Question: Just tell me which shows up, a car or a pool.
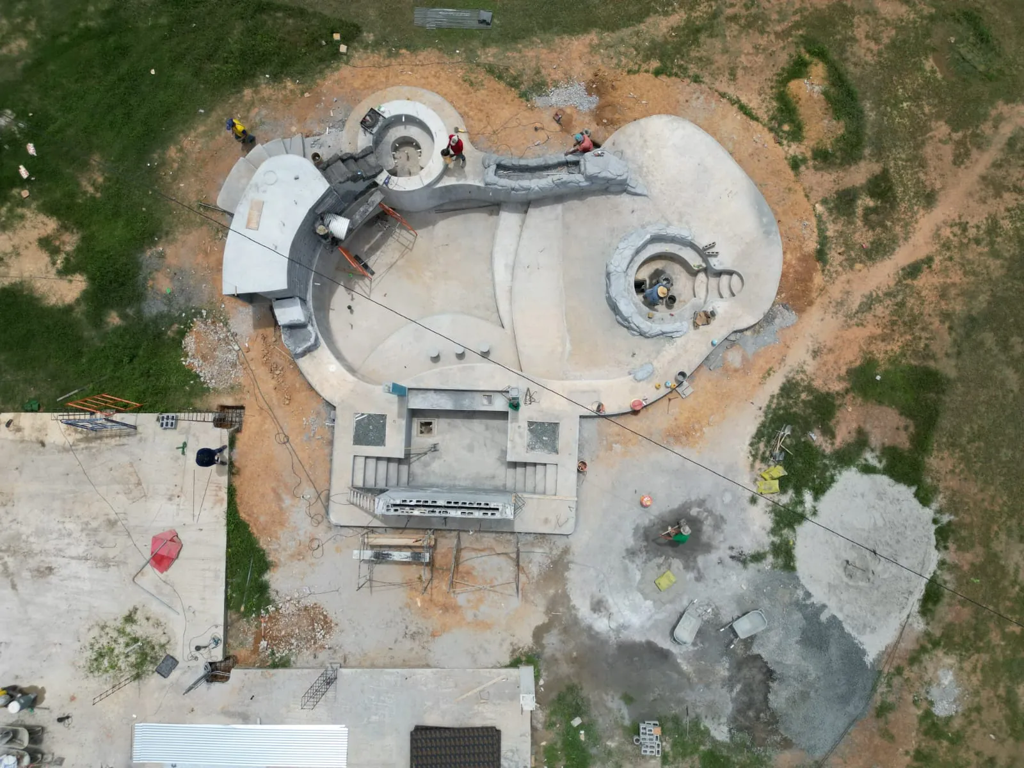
pool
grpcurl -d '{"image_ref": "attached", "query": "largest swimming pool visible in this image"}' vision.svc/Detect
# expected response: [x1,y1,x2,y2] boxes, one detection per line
[269,87,782,535]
